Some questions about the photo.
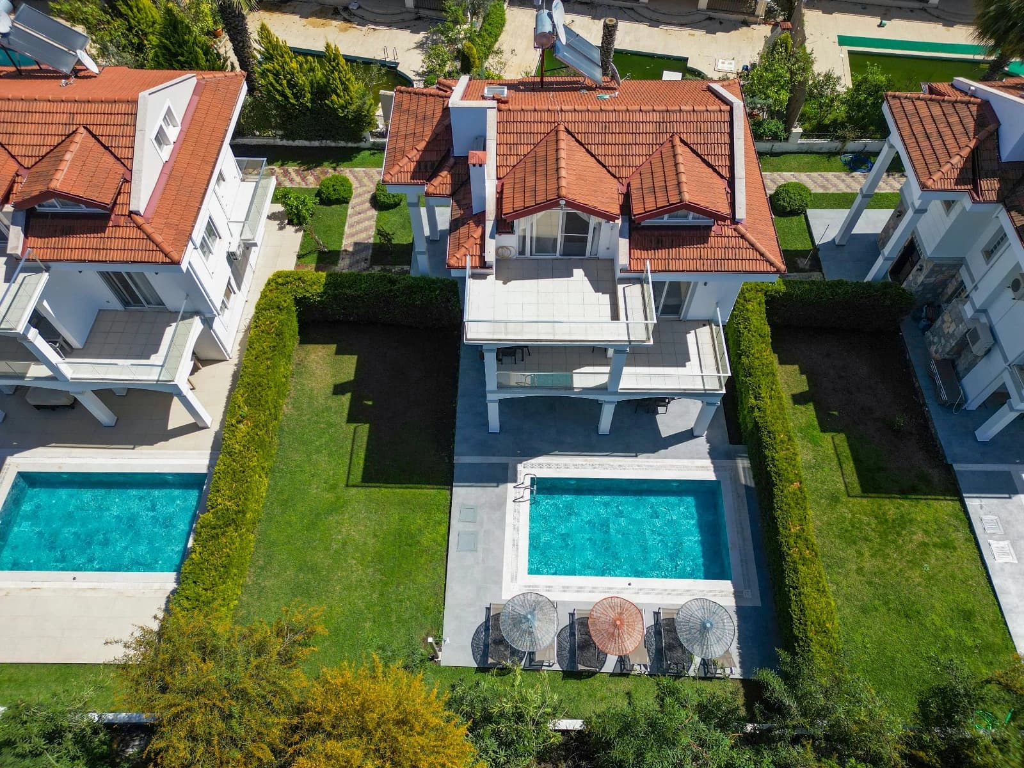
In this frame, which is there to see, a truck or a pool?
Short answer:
pool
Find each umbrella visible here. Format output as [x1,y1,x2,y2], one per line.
[500,593,558,651]
[676,601,734,660]
[587,599,645,658]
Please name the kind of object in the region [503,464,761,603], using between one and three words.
swimming pool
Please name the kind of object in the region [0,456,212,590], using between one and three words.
swimming pool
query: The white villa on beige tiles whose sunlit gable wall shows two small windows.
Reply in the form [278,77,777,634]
[0,69,278,432]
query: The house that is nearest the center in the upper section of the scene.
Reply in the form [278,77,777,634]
[380,72,789,440]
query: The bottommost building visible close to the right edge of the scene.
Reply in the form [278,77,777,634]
[828,78,1024,445]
